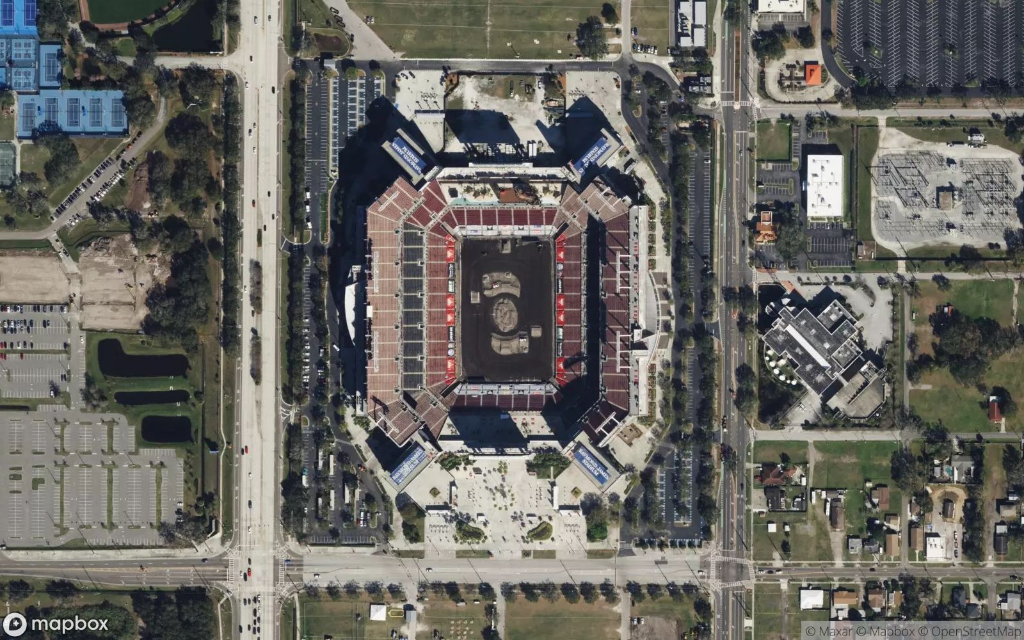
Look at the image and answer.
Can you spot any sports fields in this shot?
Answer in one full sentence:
Yes, the image includes a sports field.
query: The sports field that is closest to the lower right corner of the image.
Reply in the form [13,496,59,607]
[504,599,622,640]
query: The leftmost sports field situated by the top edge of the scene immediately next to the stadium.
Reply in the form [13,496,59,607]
[351,0,622,58]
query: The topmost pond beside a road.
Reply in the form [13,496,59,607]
[151,0,221,53]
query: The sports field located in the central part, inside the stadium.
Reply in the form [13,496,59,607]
[455,236,556,385]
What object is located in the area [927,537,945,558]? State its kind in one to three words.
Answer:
building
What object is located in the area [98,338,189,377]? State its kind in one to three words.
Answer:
pond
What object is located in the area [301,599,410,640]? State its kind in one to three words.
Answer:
sports field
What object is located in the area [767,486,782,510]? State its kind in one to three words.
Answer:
house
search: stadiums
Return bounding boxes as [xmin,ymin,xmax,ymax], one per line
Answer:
[345,128,666,492]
